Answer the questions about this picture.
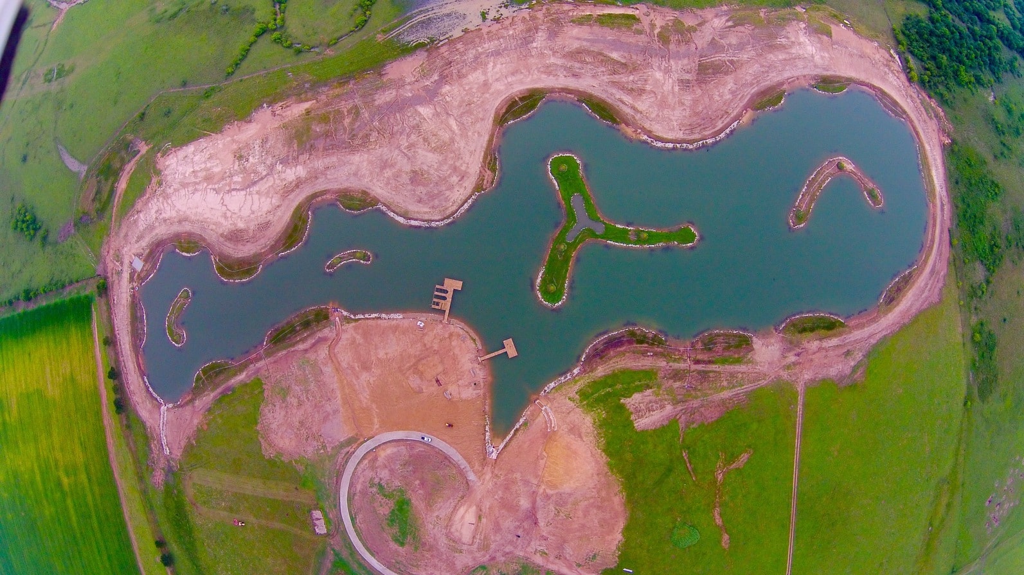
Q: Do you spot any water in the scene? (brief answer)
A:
Yes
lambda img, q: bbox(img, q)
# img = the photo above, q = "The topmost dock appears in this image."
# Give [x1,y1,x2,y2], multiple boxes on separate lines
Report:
[432,278,462,324]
